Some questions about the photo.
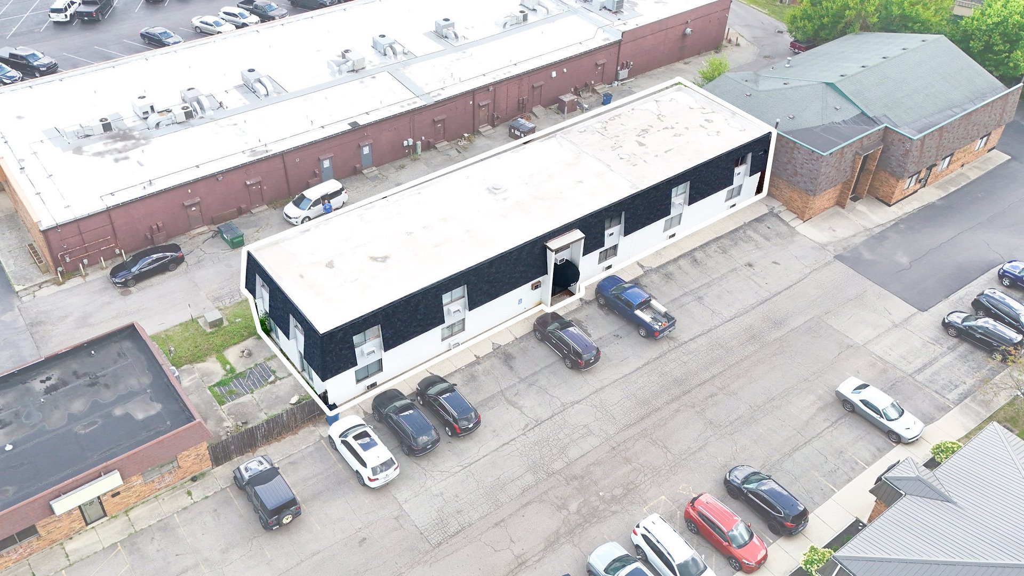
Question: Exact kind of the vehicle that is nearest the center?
automobile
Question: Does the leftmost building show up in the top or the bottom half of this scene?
bottom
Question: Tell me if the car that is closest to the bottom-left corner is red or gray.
gray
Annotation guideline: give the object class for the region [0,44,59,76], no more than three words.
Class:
truck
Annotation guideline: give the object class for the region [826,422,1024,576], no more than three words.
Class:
building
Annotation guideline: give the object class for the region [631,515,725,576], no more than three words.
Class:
car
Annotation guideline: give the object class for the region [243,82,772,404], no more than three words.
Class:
building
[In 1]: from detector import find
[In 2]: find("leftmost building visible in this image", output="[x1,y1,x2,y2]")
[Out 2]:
[0,323,215,568]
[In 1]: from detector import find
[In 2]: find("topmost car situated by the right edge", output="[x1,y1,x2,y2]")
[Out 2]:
[996,261,1024,291]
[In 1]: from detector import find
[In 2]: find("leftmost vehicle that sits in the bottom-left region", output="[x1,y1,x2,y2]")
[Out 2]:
[231,454,305,539]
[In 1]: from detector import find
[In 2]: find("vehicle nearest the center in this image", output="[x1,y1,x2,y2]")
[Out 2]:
[533,311,604,374]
